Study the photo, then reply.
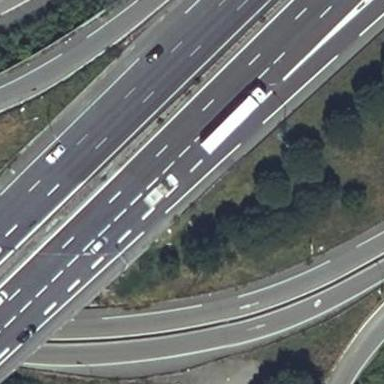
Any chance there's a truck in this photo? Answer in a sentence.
Yes, there is a truck in the image.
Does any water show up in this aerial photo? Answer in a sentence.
No, water can't be seen anywhere here.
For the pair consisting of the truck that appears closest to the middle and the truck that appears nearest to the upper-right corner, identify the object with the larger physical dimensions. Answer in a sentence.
The truck that appears nearest to the upper-right corner covers a greater area than the truck that appears closest to the middle.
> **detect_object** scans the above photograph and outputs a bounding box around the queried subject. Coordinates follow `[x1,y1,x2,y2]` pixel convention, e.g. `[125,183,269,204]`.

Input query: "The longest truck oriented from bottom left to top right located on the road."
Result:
[200,88,268,155]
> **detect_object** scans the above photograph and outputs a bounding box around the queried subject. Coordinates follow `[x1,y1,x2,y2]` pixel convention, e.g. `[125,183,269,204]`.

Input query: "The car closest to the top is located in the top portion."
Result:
[144,43,164,62]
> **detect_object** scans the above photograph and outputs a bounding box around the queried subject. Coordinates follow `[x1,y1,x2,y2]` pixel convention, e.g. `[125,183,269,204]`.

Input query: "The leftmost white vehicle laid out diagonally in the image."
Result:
[46,144,65,162]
